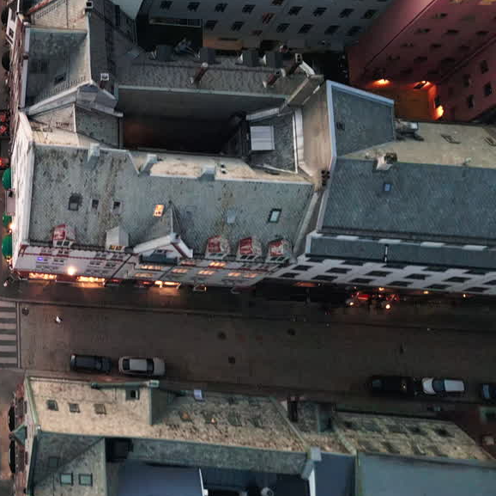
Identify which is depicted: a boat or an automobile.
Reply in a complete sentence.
Looking from above, you can make out an automobile.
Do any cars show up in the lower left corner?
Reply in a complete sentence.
Yes, a car can be seen in the lower left corner.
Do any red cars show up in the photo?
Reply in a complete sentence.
No, I can't see a single red car in this photo.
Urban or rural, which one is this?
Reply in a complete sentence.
This place is urban.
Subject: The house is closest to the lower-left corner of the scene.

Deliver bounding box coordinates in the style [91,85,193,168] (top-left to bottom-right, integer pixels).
[2,378,169,496]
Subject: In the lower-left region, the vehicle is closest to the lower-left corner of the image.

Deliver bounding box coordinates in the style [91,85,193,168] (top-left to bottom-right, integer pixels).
[68,353,112,374]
